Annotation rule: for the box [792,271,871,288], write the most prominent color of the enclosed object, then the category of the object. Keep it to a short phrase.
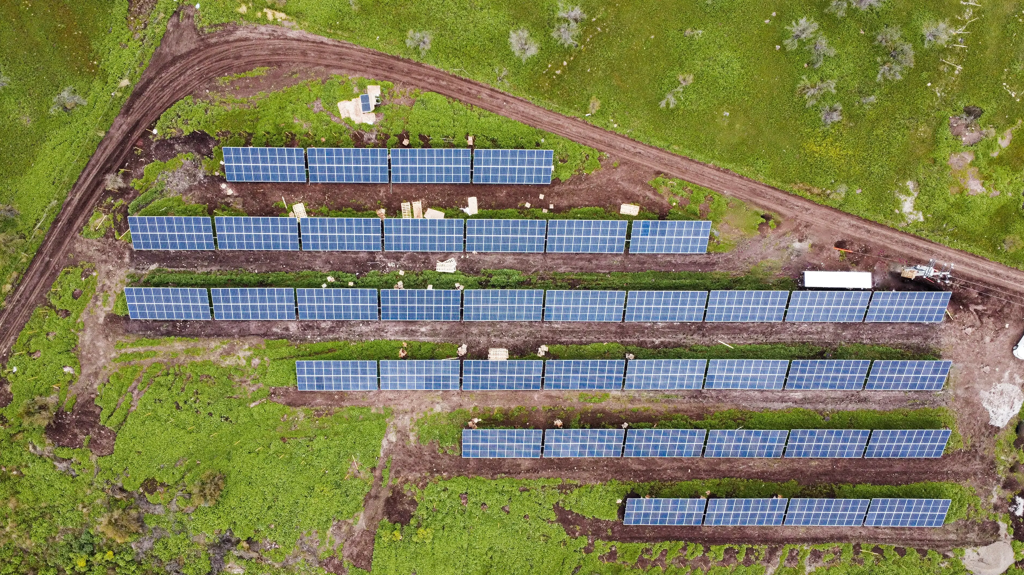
white trailer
